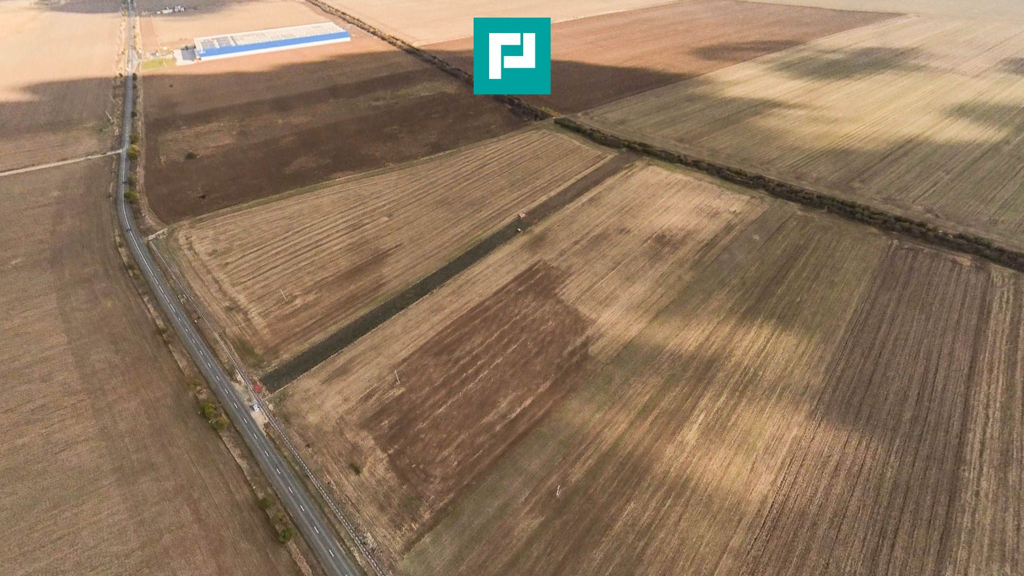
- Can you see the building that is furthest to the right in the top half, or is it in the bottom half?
top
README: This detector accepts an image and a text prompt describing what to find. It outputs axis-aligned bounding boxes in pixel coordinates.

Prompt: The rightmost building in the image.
[193,22,350,60]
